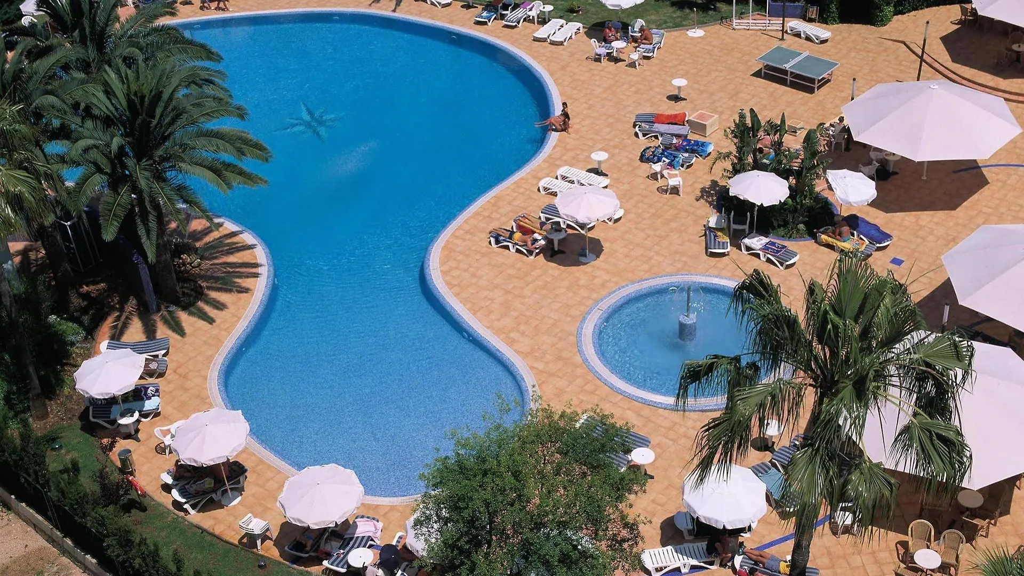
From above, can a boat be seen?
No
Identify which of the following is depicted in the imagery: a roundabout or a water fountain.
water fountain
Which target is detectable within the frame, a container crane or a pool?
pool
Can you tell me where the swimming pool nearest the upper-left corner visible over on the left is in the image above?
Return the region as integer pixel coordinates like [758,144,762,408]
[45,10,556,497]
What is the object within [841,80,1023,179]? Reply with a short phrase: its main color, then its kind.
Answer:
white umbrella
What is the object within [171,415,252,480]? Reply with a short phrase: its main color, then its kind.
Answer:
white umbrella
